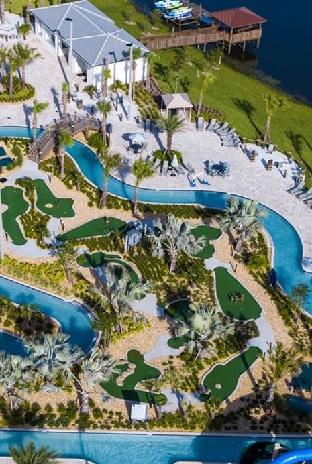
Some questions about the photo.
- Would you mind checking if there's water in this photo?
Yes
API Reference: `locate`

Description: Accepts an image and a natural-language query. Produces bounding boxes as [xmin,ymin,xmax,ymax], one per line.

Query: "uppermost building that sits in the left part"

[30,0,150,83]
